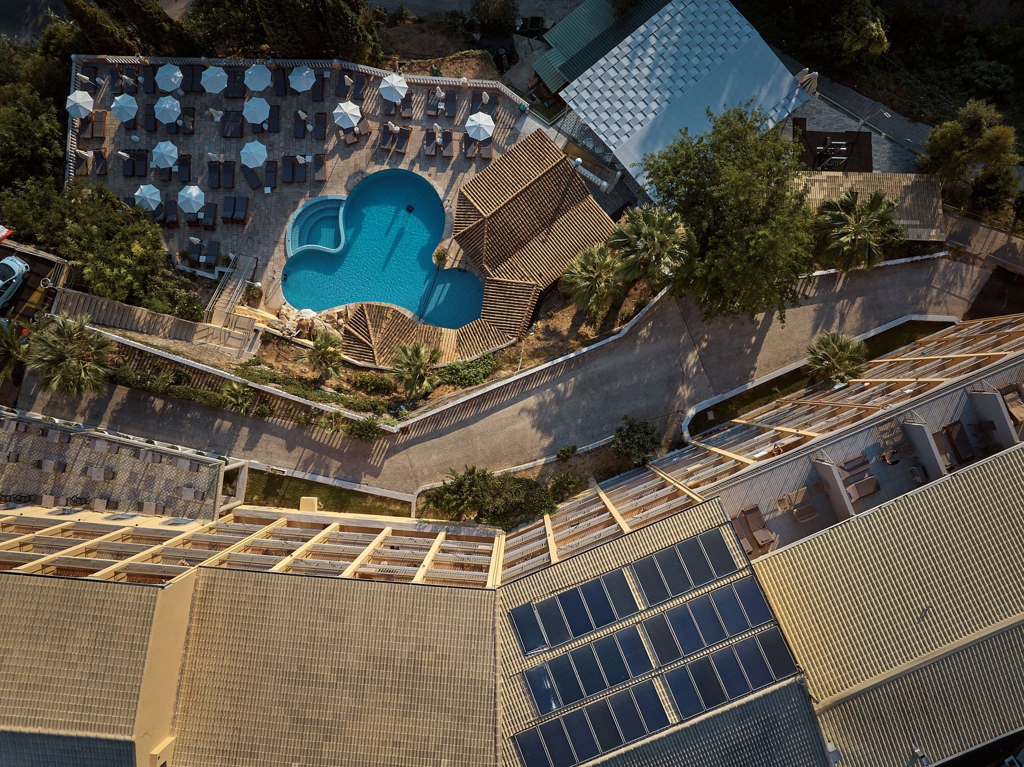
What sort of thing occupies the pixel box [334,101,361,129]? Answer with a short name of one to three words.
umbrella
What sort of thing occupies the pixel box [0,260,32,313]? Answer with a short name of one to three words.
car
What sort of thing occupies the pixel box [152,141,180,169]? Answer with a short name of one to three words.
umbrella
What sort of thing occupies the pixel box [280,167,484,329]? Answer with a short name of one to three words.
swimming pool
